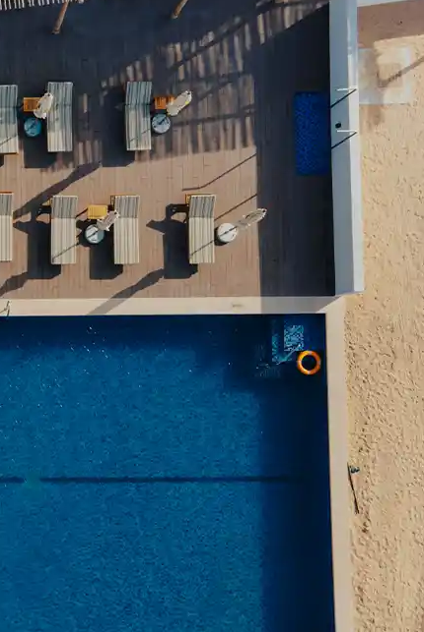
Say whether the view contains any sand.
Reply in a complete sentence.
Yes, there's sand in this view.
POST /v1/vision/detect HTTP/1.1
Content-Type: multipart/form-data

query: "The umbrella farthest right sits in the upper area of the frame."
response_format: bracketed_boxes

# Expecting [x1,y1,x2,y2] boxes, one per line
[217,215,266,242]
